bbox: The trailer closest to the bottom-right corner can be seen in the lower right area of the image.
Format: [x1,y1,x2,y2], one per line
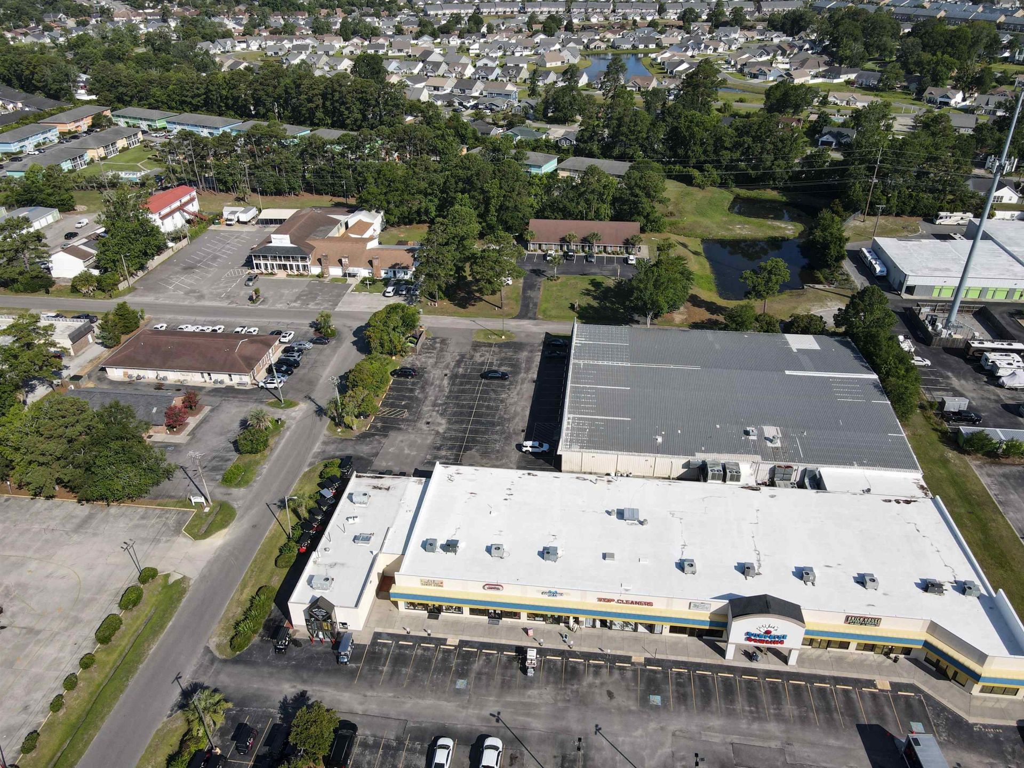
[896,730,944,768]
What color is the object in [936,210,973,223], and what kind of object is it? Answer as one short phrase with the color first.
white vehicle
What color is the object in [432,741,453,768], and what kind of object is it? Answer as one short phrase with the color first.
white car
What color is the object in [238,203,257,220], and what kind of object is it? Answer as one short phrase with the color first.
white vehicle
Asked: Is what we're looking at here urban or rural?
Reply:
urban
